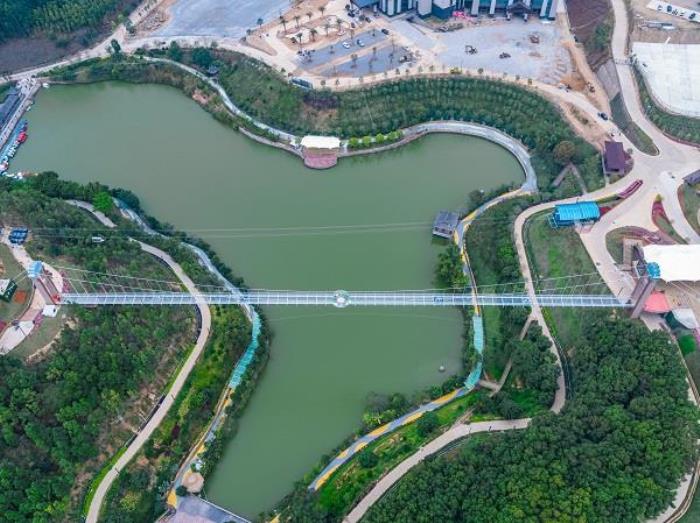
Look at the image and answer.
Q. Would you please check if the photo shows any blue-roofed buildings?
Yes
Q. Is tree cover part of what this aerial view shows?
Yes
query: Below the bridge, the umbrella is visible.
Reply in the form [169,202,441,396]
[179,468,201,490]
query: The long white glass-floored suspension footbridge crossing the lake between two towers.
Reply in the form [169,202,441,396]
[12,258,700,312]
